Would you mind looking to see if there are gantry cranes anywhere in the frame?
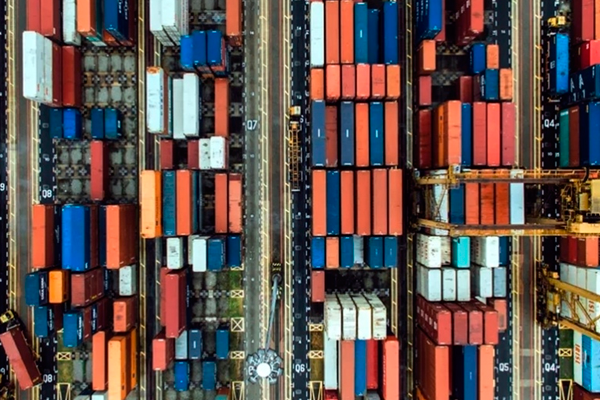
Yes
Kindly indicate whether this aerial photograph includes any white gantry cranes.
No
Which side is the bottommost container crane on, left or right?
right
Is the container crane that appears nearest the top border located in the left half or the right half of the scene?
right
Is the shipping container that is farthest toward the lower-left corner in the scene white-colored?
No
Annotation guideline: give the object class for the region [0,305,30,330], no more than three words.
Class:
truck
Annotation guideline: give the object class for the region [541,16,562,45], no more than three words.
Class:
truck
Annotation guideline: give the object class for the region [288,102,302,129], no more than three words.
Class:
vehicle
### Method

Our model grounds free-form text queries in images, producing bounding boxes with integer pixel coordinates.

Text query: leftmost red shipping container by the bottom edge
[0,325,41,389]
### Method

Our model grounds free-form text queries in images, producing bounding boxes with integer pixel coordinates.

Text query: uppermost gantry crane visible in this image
[405,159,600,237]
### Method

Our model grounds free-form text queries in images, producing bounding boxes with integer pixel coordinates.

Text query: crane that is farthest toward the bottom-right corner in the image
[538,266,600,345]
